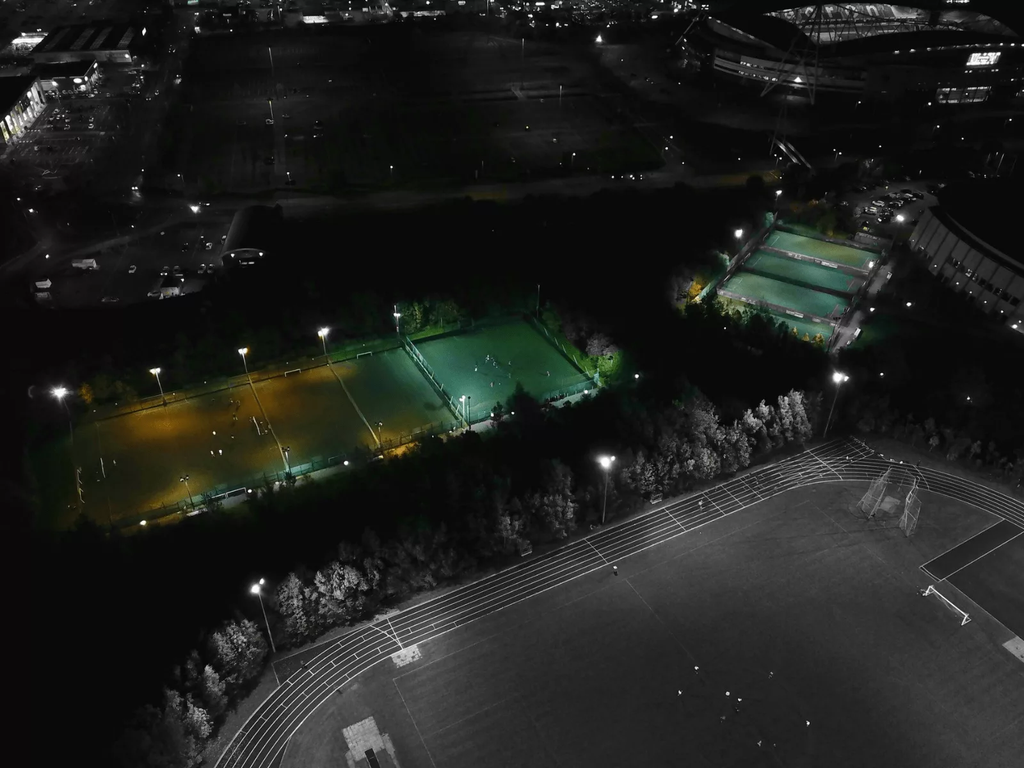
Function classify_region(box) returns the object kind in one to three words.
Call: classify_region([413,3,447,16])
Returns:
building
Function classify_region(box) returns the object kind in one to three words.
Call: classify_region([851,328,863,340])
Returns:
vehicle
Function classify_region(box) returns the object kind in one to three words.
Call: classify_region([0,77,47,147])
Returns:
building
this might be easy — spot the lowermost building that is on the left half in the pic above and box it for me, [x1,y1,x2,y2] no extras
[157,275,184,297]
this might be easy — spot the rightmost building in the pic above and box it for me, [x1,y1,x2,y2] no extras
[910,171,1024,338]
